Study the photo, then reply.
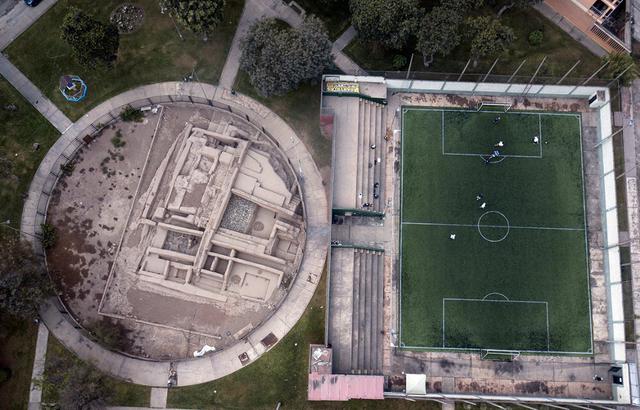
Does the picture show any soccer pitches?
Yes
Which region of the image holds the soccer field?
right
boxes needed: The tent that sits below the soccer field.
[404,373,426,394]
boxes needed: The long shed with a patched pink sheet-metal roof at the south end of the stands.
[308,374,384,399]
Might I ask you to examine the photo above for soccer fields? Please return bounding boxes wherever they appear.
[398,106,594,359]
